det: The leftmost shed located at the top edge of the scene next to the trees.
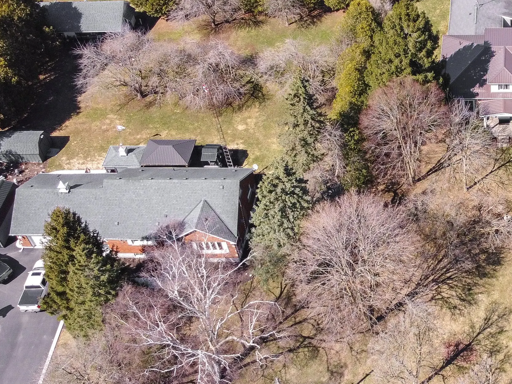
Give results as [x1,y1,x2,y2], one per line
[45,0,139,46]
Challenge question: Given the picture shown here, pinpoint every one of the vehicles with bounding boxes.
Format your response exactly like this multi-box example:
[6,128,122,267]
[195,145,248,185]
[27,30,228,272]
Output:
[13,262,51,314]
[0,263,13,287]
